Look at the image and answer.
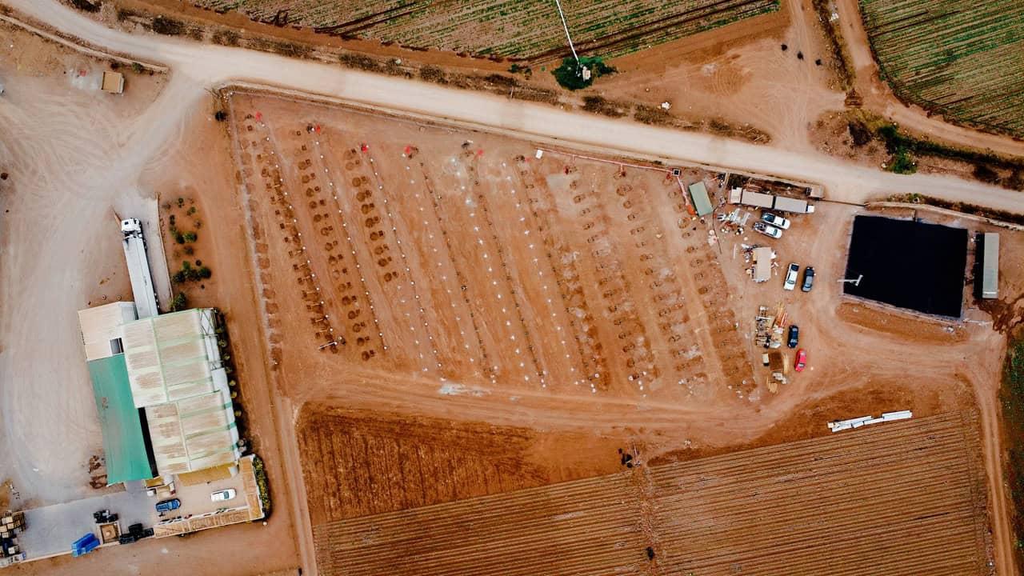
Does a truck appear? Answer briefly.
Yes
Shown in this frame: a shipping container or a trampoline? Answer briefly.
shipping container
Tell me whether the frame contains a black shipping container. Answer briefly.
No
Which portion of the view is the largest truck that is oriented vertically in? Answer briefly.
left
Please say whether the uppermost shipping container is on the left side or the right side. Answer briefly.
right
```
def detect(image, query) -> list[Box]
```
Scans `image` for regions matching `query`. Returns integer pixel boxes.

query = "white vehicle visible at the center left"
[117,219,155,319]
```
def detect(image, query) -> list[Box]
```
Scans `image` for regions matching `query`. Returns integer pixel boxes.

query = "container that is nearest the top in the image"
[686,181,713,217]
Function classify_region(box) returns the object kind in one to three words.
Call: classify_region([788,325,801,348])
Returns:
vehicle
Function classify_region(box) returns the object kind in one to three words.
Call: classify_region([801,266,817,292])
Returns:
vehicle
